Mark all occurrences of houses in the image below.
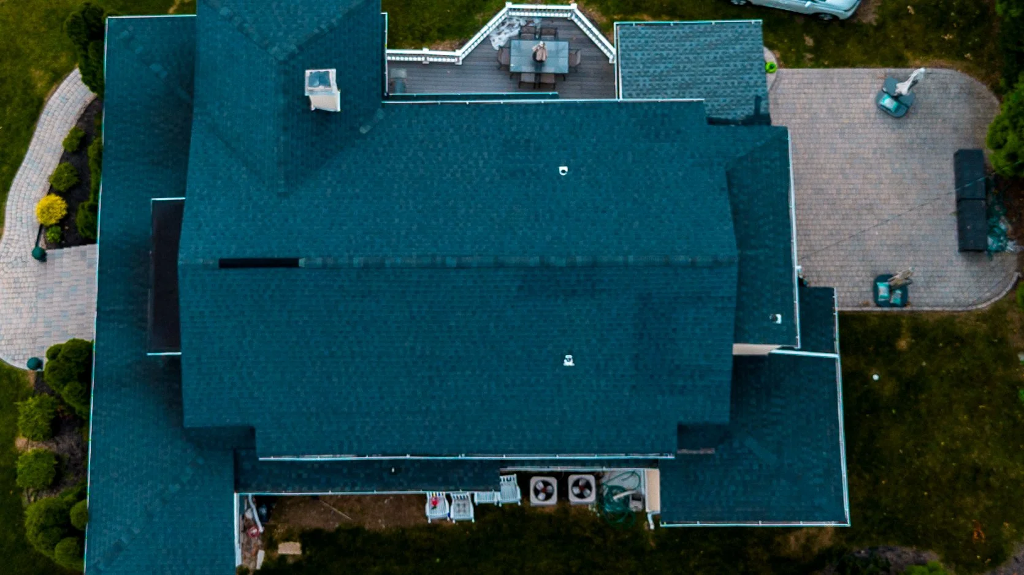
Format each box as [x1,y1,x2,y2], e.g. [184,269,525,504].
[83,0,851,575]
